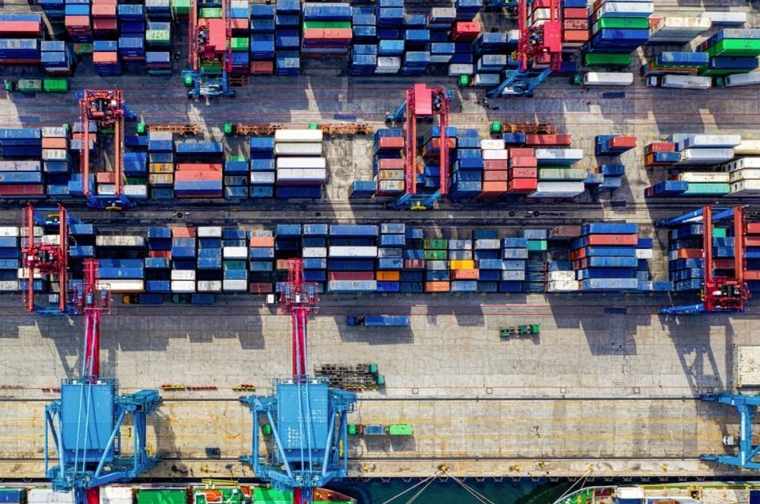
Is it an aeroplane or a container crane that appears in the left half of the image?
container crane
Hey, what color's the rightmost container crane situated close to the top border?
red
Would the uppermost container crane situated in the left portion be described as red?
Yes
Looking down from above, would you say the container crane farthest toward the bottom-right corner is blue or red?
blue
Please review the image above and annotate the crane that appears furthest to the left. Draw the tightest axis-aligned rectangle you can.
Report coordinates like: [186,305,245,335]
[20,206,89,320]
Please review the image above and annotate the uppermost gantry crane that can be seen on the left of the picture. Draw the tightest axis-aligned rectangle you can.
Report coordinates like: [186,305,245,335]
[181,0,237,96]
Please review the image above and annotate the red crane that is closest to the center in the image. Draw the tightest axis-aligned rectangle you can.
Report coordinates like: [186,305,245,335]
[379,81,453,218]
